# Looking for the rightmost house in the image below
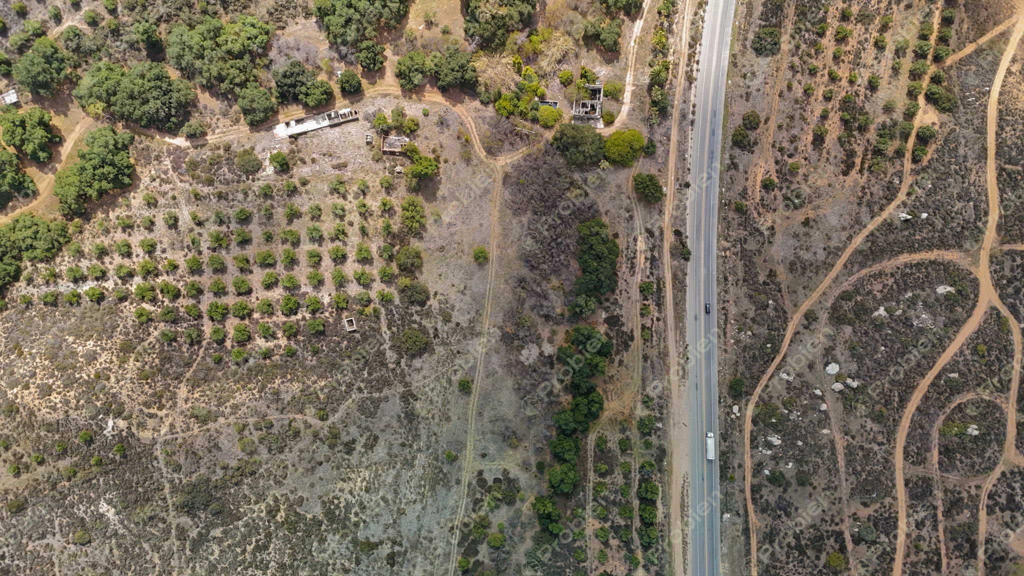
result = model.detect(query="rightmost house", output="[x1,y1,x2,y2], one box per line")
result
[573,82,604,128]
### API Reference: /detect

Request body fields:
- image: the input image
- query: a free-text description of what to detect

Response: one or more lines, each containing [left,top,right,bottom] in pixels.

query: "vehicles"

[706,432,715,461]
[705,302,710,314]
